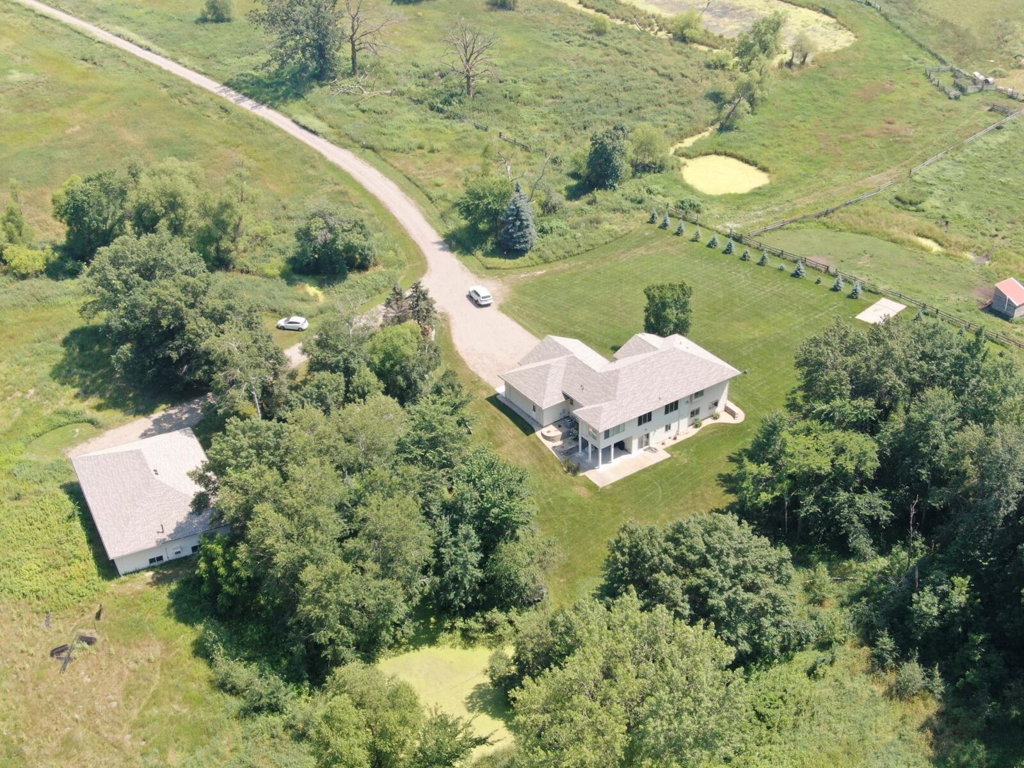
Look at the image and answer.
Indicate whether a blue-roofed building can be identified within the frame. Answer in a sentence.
No, the scene contains no blue-roofed building.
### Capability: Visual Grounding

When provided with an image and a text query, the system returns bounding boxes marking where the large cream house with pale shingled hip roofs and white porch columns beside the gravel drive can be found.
[496,333,742,468]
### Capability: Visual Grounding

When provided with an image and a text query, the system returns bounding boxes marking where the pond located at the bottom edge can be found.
[359,621,536,768]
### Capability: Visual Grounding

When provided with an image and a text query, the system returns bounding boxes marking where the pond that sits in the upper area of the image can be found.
[682,154,770,195]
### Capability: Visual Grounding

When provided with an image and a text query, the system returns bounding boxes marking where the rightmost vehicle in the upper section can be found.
[469,288,494,307]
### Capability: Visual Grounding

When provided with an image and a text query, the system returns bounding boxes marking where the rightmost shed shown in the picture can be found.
[993,278,1024,316]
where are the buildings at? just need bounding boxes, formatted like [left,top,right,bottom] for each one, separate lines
[993,278,1024,316]
[69,428,240,574]
[496,333,742,468]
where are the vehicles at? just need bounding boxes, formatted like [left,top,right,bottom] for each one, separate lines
[469,288,494,307]
[276,316,308,332]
